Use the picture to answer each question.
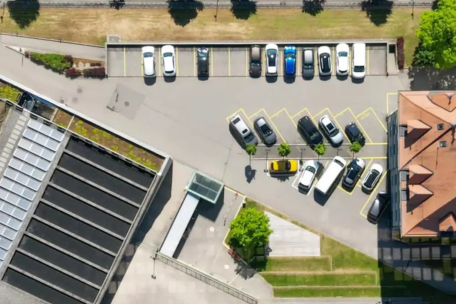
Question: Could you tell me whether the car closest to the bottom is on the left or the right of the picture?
right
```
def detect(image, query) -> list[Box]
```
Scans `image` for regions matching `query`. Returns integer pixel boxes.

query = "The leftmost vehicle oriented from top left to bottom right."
[229,111,257,147]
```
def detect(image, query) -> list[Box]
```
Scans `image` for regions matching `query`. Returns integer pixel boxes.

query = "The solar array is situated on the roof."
[0,119,64,264]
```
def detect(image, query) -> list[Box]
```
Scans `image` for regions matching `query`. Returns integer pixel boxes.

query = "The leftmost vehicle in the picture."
[141,45,156,77]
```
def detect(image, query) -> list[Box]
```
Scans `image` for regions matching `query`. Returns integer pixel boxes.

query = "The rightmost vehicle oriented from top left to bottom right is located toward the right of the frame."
[345,119,366,146]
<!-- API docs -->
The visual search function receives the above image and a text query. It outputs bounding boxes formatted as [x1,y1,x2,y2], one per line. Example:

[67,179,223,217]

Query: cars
[297,113,324,147]
[345,119,366,146]
[301,48,315,77]
[318,47,332,76]
[283,46,298,75]
[264,44,279,75]
[343,157,365,188]
[361,162,382,192]
[254,115,277,147]
[335,44,350,76]
[319,115,343,146]
[269,158,297,172]
[298,162,318,192]
[367,192,390,224]
[141,45,156,77]
[248,47,263,76]
[195,46,210,76]
[161,44,176,76]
